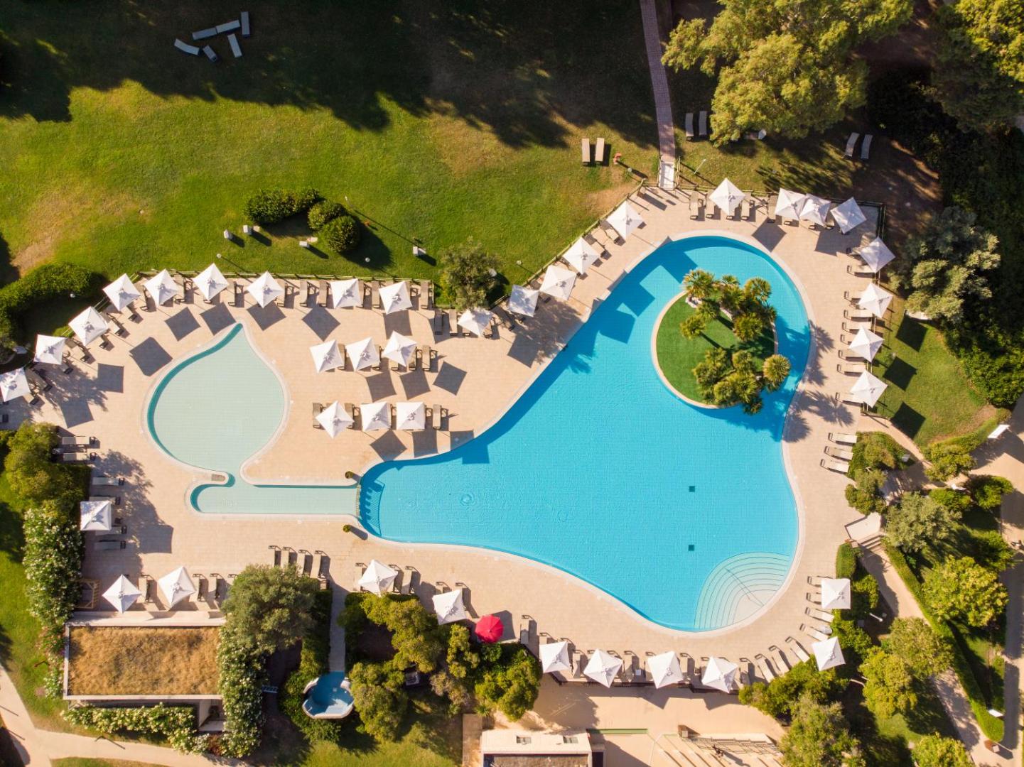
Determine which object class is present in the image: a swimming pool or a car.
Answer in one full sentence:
Looking from above, you can make out a swimming pool.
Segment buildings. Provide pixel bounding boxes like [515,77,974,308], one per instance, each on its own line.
[486,730,590,767]
[64,612,232,698]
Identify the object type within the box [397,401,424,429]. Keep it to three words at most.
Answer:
umbrella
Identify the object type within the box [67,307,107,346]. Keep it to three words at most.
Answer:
umbrella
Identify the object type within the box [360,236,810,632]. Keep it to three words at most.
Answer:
swimming pool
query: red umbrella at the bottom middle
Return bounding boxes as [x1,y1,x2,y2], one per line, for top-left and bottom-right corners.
[475,615,504,644]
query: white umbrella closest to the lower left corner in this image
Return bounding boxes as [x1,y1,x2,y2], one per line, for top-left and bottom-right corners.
[101,575,142,614]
